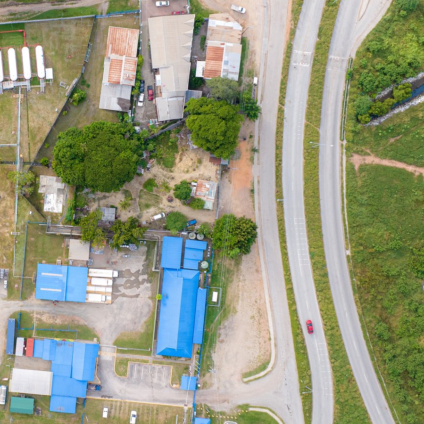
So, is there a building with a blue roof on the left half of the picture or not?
Yes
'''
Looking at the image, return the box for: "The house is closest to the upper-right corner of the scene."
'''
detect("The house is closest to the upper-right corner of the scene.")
[195,14,242,81]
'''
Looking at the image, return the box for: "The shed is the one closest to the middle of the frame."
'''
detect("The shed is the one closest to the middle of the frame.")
[189,181,215,210]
